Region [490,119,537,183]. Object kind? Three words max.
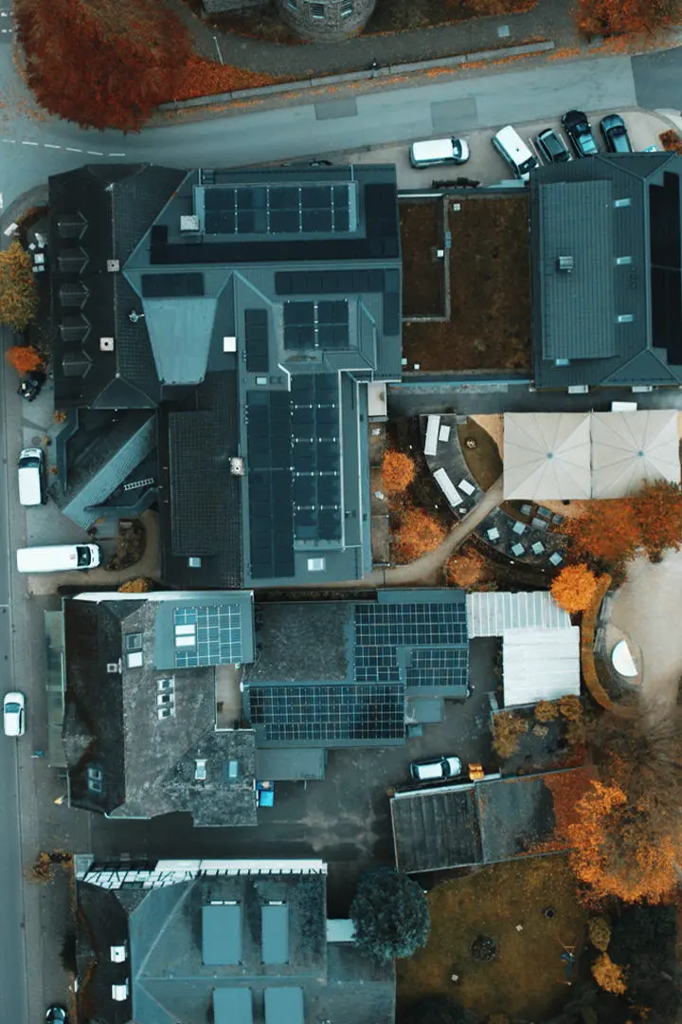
van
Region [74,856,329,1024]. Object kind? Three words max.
house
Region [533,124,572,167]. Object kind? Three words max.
car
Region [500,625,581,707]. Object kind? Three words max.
shed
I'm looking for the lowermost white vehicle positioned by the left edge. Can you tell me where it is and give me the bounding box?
[0,691,27,738]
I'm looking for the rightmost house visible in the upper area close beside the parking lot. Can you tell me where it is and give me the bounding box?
[528,154,682,393]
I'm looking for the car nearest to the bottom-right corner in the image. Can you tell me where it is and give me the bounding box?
[409,754,462,782]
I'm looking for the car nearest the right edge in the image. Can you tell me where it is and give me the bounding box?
[599,109,631,155]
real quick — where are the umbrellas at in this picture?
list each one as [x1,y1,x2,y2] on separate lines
[35,234,45,249]
[592,410,681,498]
[503,412,591,499]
